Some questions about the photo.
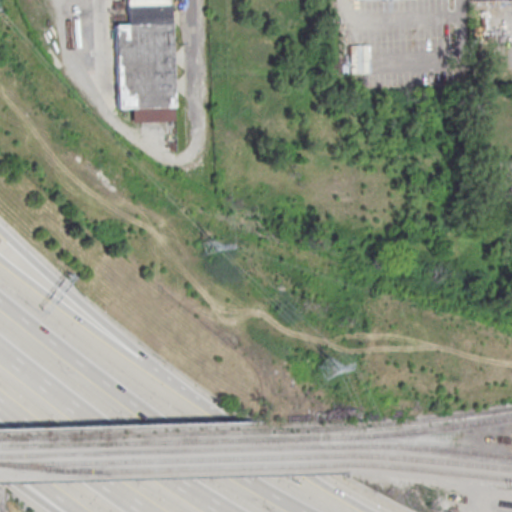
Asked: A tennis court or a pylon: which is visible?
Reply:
pylon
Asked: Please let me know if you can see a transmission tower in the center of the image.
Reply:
Yes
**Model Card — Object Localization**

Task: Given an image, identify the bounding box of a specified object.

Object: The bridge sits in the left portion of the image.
[0,410,356,485]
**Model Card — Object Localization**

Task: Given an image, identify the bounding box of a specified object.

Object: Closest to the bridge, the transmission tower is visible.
[322,358,362,380]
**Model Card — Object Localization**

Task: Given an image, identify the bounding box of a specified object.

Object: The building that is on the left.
[116,0,178,122]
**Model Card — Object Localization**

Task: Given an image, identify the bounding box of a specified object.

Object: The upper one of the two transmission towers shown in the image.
[202,237,238,258]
